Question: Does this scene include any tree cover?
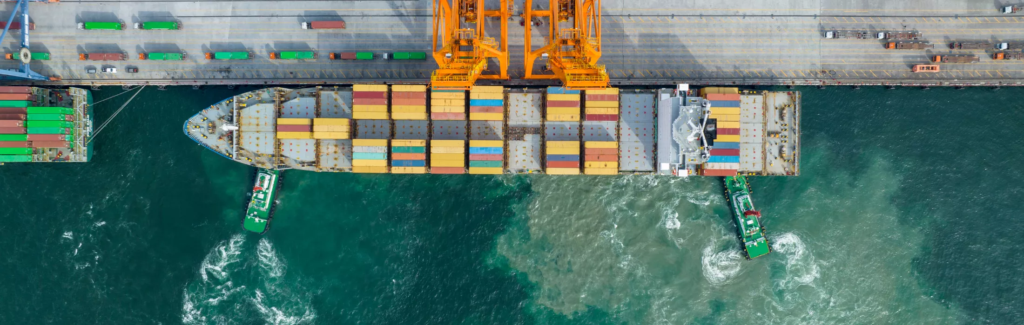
No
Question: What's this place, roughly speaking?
port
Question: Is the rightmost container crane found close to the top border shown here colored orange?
Yes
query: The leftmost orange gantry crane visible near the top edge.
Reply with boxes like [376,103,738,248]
[428,0,516,93]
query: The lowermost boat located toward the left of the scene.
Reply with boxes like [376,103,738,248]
[244,168,282,235]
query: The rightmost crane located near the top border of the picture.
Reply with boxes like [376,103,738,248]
[517,0,609,93]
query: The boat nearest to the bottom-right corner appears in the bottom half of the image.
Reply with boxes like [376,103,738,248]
[724,175,770,260]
